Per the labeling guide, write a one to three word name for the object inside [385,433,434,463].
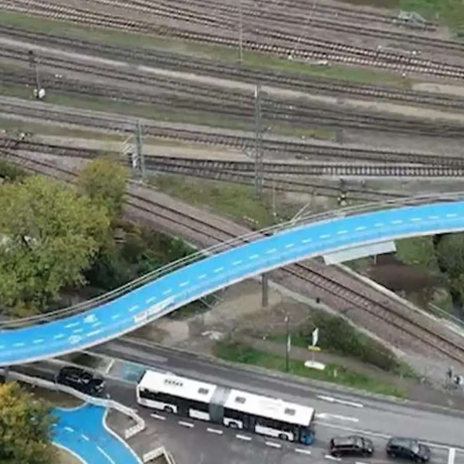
car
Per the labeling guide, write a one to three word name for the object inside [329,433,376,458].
car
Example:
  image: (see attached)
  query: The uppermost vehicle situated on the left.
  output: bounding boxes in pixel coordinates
[56,361,104,391]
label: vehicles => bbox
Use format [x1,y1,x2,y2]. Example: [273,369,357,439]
[138,372,323,446]
[385,433,434,463]
[56,361,104,391]
[329,433,376,458]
